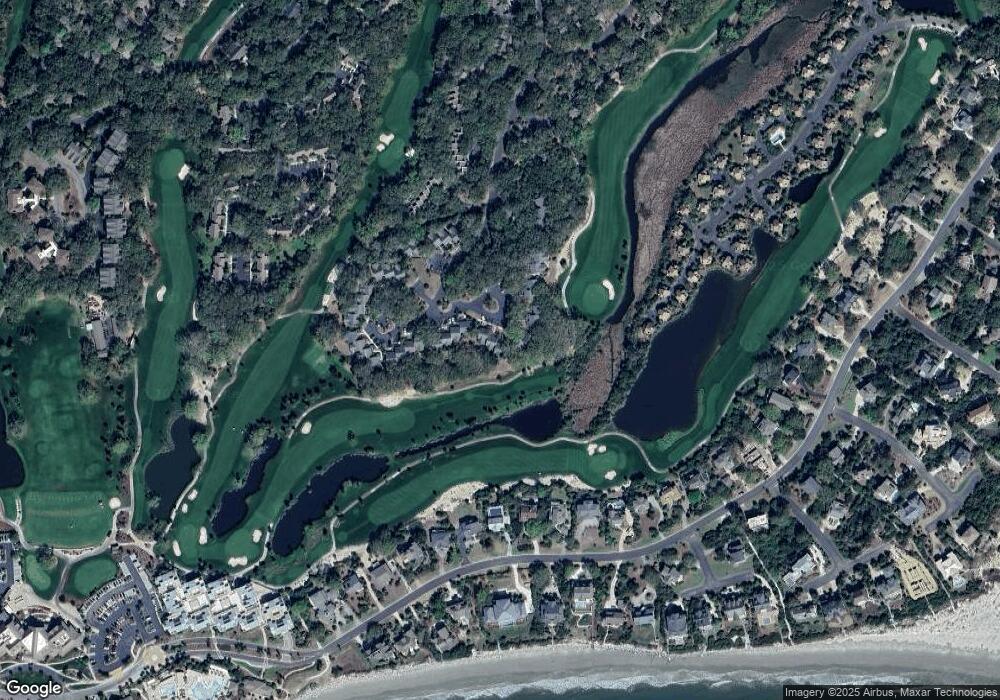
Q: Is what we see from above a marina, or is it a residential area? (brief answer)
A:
residential area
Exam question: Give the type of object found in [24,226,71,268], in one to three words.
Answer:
building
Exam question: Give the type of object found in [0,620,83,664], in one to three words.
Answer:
building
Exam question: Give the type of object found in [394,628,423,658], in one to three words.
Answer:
house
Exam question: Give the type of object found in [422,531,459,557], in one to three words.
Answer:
house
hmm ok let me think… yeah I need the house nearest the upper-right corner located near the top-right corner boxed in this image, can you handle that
[965,47,999,77]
